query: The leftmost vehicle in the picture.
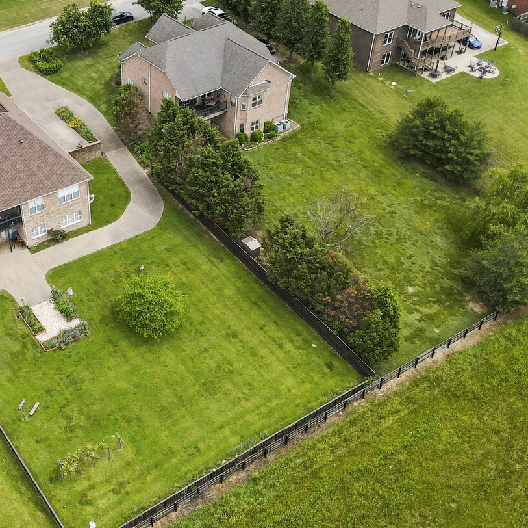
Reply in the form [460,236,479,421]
[109,9,135,24]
